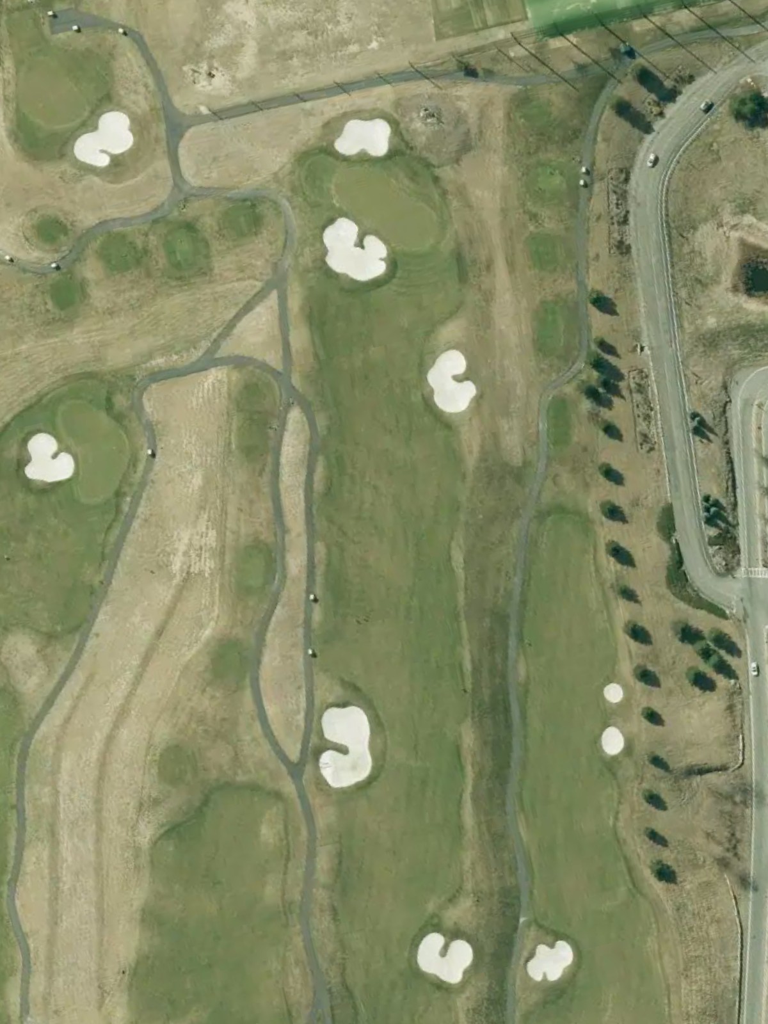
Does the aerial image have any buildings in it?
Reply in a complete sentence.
No, the picture doesn't show any building.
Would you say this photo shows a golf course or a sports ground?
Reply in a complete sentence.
It's a golf course.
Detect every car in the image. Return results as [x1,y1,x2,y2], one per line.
[751,661,758,676]
[647,153,657,168]
[698,99,712,112]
